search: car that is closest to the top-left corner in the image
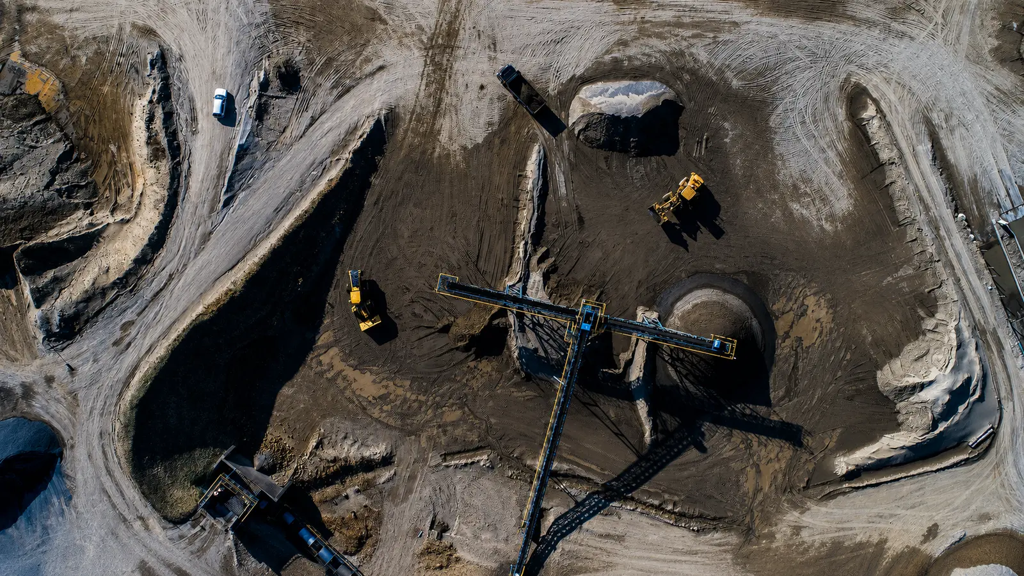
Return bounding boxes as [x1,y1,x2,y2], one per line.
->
[211,88,230,120]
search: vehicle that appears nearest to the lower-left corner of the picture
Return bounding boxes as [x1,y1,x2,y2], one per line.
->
[346,273,383,335]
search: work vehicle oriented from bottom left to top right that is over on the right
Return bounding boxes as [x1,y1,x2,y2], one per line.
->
[645,171,705,231]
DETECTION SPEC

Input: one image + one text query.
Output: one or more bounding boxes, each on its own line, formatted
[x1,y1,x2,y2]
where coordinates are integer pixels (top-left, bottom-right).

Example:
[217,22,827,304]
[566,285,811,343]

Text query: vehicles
[346,273,383,335]
[645,171,705,231]
[211,88,230,120]
[496,59,548,116]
